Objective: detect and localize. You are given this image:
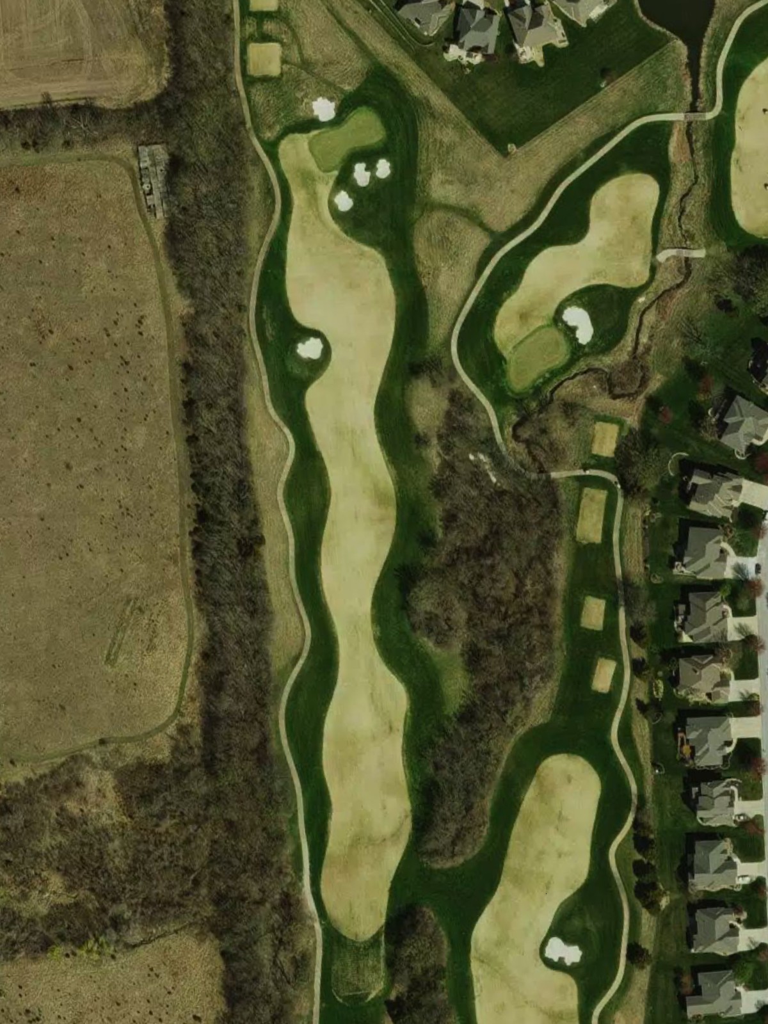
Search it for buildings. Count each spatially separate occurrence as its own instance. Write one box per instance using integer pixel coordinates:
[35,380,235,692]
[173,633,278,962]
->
[684,526,726,580]
[698,783,735,826]
[681,655,731,703]
[688,593,730,643]
[456,4,499,54]
[689,842,739,889]
[694,908,741,954]
[555,0,606,25]
[687,717,734,766]
[687,469,745,520]
[508,0,560,45]
[688,972,743,1019]
[716,395,768,454]
[397,0,453,34]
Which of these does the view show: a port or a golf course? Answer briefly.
golf course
